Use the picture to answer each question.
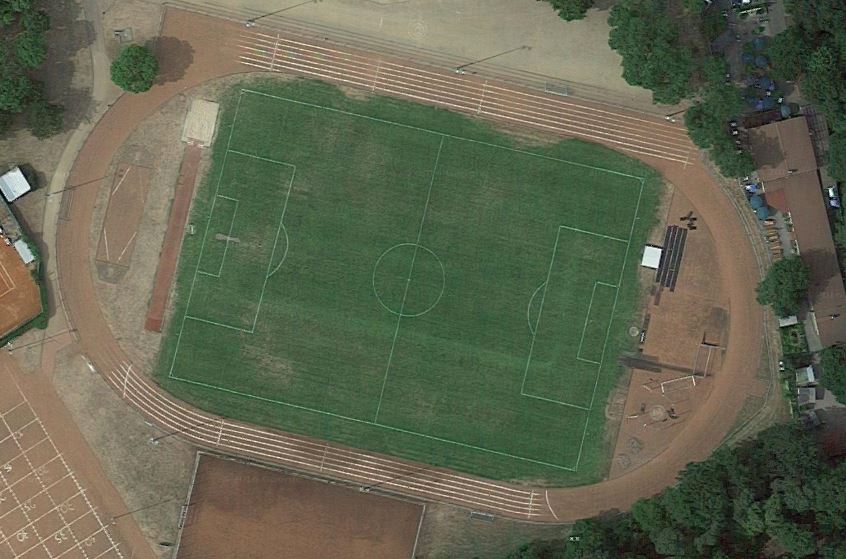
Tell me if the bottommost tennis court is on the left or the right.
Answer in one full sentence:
The bottommost tennis court sits on the left side.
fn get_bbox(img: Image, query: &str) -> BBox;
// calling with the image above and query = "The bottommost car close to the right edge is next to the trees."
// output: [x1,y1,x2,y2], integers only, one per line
[826,186,839,208]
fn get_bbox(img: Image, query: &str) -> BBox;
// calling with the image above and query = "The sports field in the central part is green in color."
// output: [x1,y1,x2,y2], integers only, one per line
[154,77,663,489]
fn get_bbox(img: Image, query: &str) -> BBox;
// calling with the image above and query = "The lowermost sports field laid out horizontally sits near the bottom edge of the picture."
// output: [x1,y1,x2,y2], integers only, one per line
[172,452,425,559]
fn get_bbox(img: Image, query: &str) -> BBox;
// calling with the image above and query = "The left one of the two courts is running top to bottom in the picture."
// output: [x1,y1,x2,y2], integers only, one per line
[0,236,40,337]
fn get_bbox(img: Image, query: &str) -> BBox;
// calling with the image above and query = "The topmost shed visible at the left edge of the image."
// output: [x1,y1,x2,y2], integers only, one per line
[0,167,30,201]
